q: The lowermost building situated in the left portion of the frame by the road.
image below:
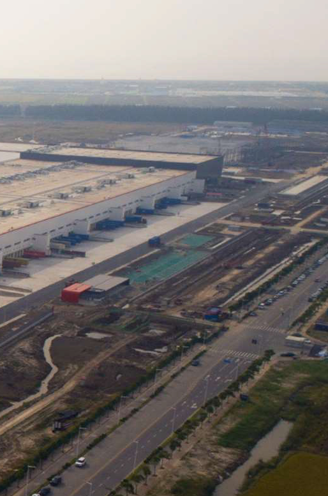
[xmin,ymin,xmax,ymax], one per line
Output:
[61,272,124,302]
